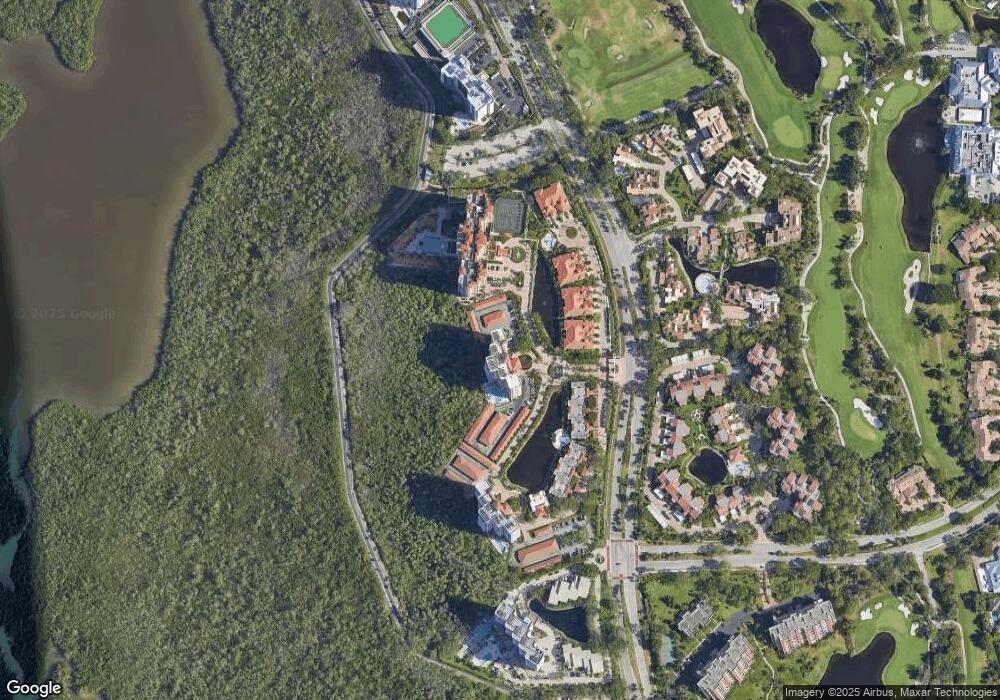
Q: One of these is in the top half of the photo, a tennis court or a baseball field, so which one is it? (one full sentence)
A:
The one visible in the top half of the photo is a tennis court.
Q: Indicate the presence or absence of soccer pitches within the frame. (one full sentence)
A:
No, there's no soccer pitch here.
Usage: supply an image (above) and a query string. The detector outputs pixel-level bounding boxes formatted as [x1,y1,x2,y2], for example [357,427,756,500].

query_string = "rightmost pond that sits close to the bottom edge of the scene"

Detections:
[810,632,896,700]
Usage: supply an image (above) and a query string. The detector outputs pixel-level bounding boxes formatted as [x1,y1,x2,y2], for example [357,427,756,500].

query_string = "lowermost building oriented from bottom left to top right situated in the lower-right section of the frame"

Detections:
[696,635,758,700]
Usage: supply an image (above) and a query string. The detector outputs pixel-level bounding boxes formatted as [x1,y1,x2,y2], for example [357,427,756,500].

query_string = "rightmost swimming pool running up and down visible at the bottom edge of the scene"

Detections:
[658,632,675,667]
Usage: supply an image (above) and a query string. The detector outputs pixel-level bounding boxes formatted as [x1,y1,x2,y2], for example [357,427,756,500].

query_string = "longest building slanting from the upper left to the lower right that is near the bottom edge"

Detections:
[495,600,544,673]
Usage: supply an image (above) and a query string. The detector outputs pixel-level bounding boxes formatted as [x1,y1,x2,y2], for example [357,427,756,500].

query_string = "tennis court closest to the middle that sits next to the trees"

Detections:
[494,196,525,232]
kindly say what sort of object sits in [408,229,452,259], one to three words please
swimming pool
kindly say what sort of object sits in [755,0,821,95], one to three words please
pond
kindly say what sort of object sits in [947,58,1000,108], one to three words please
building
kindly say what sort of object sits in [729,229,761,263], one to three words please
house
